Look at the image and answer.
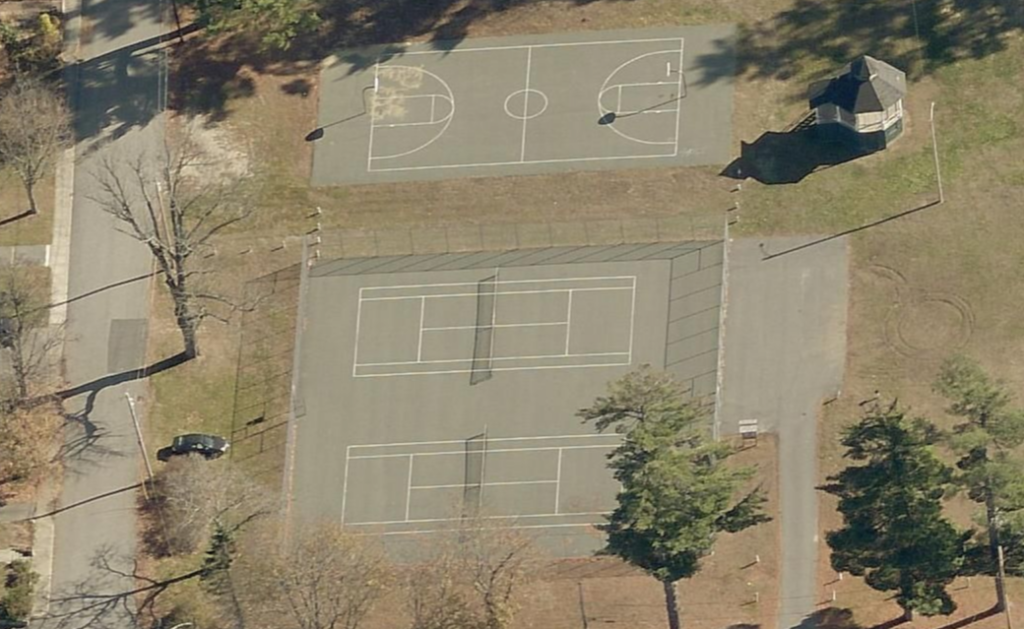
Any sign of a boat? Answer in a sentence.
No, the photo shows no boat.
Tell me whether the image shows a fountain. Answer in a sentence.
No, there isn't any fountain down there.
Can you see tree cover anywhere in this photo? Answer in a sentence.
Yes, some tree cover is visible.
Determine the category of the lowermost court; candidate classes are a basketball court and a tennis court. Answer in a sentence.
The lowermost court is a tennis court.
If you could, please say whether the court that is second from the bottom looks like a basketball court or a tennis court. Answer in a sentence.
The court that is second from the bottom can be classified as a tennis court.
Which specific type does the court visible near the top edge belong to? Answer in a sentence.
It looks like the court visible near the top edge is a basketball court.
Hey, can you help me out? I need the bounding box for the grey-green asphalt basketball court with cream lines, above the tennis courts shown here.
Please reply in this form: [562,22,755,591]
[311,24,734,185]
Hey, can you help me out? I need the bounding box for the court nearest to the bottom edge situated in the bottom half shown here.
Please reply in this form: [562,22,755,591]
[285,395,714,563]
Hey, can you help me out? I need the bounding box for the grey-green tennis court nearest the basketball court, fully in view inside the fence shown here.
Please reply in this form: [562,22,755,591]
[296,240,722,413]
